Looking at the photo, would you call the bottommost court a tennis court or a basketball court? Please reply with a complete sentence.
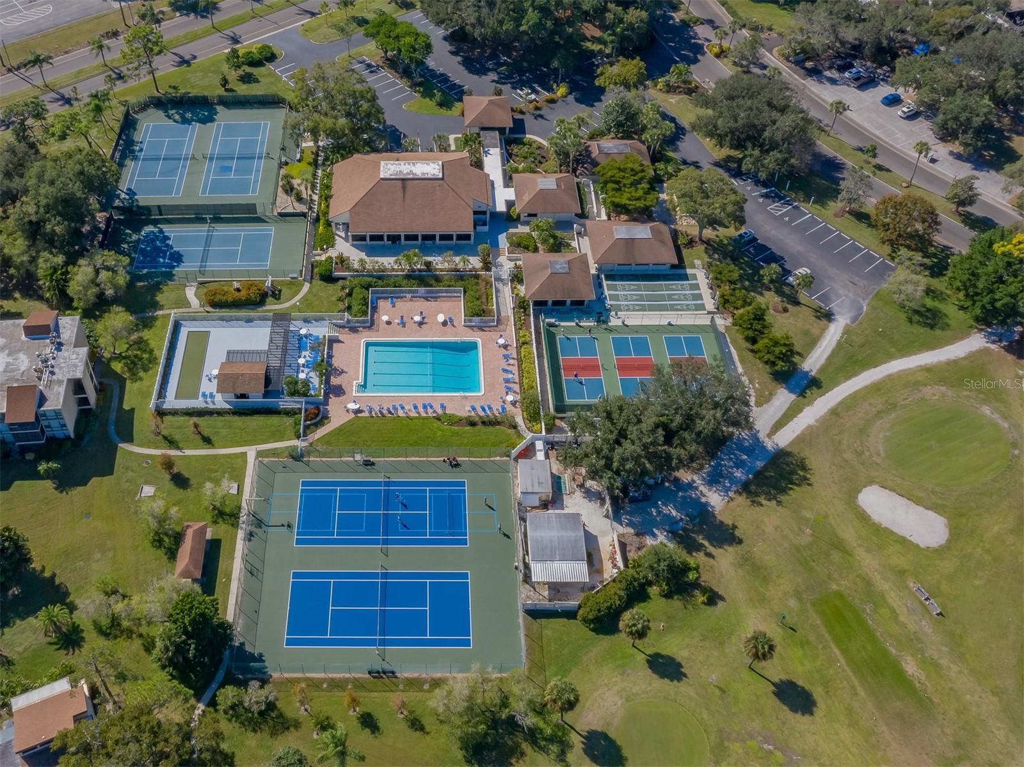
What you see as the bottommost court is a tennis court.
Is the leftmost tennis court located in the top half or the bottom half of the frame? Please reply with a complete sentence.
The top half of the photo is where the leftmost tennis court is.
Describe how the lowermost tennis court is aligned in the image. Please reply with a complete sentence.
From this overhead view, the lowermost tennis court appears to run from side to side.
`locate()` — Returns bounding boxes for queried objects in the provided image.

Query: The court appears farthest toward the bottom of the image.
[284,561,472,655]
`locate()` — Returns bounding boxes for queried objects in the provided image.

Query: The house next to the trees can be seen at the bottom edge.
[11,678,96,760]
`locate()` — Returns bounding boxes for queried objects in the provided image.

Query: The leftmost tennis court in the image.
[127,123,198,196]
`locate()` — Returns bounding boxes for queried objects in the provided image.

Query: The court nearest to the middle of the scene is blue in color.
[558,336,605,400]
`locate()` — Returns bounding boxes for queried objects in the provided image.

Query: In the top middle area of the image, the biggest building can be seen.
[329,153,492,246]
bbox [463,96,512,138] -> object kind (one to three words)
building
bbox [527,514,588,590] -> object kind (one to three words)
shed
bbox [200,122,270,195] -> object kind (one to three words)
tennis court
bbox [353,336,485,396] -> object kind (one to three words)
swimming pool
